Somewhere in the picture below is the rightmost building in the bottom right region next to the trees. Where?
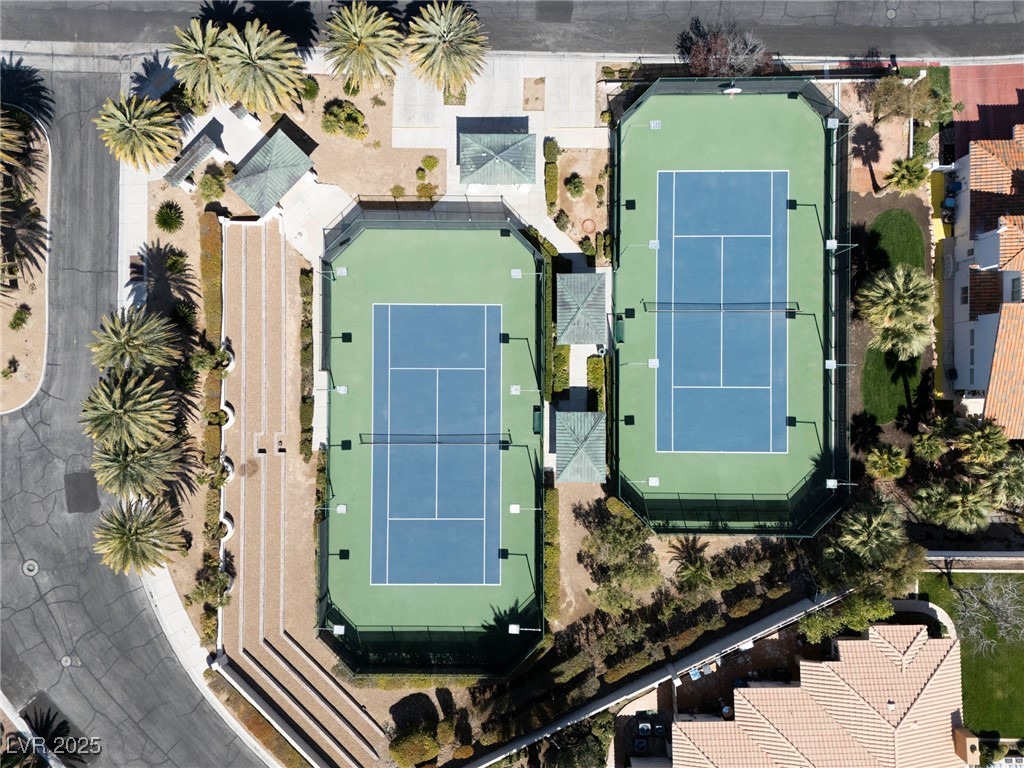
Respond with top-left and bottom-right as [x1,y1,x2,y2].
[672,624,980,768]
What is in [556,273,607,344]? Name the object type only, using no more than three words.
building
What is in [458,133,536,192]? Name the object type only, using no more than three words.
building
